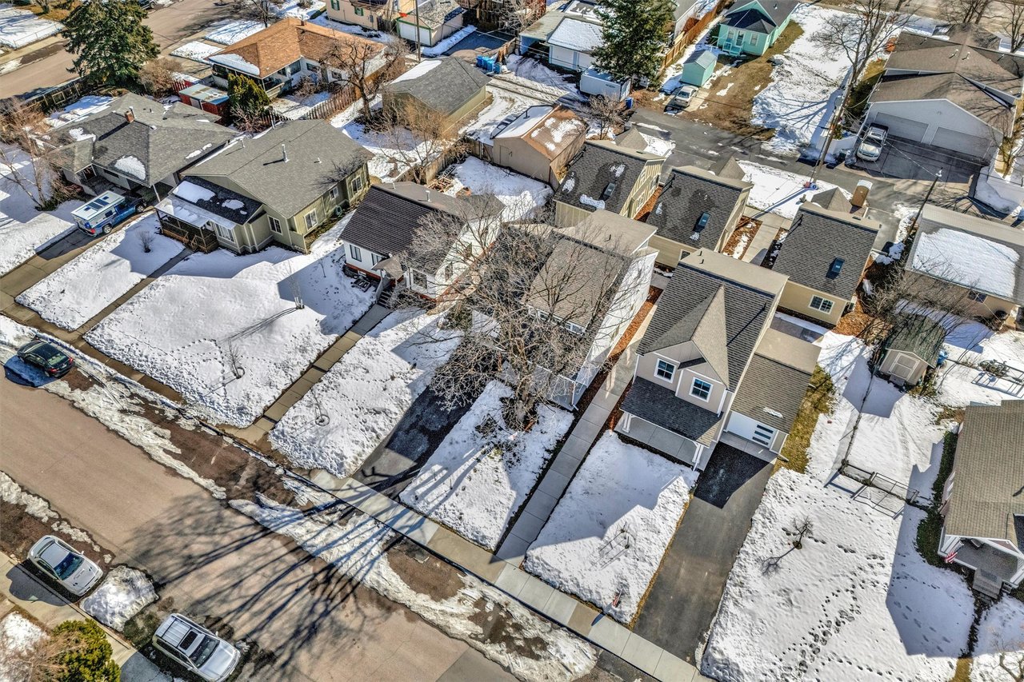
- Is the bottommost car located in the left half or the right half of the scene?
left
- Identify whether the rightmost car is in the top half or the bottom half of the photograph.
top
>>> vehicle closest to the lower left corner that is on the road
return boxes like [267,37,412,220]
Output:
[22,531,108,600]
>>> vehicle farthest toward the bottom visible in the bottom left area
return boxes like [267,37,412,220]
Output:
[152,603,243,682]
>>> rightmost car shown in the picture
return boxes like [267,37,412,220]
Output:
[858,125,888,159]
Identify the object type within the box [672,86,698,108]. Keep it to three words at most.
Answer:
car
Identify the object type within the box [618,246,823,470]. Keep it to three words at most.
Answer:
house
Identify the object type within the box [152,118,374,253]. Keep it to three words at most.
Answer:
house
